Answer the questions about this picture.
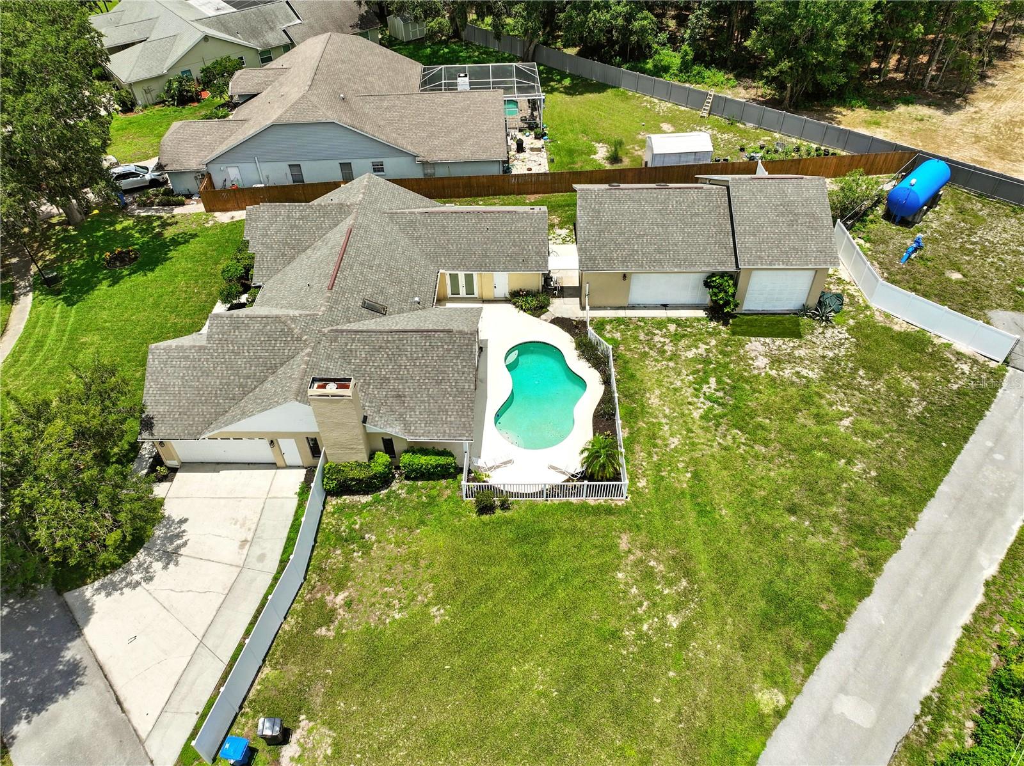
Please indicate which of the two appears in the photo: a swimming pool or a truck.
swimming pool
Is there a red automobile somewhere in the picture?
No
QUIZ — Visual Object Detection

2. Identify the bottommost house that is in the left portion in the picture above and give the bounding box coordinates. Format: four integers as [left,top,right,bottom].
[139,173,549,471]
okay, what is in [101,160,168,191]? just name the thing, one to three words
car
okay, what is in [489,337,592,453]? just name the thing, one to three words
swimming pool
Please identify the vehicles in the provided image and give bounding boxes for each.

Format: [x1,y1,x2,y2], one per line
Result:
[79,141,128,167]
[101,160,168,191]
